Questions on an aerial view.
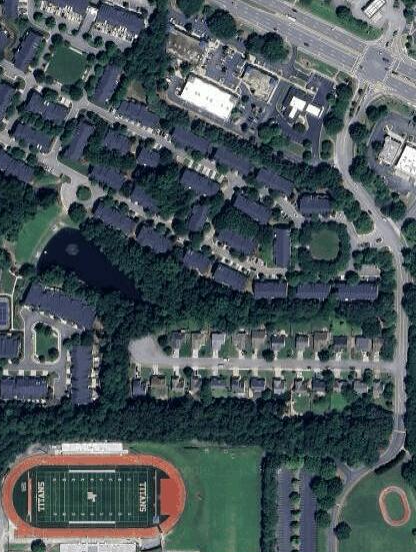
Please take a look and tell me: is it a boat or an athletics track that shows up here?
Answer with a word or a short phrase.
athletics track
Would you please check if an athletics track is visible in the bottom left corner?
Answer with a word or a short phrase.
Yes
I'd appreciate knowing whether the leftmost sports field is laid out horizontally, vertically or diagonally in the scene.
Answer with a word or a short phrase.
horizontally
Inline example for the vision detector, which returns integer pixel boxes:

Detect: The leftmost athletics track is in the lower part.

[1,454,186,539]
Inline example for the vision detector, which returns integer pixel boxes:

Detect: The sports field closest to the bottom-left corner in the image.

[34,469,150,524]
